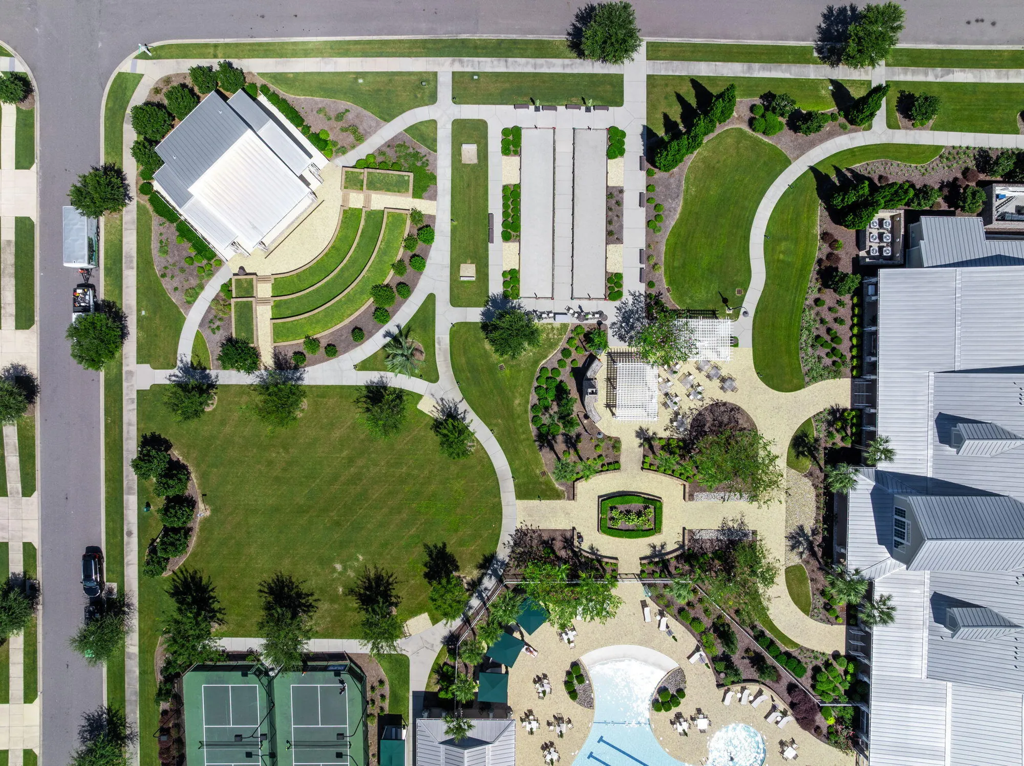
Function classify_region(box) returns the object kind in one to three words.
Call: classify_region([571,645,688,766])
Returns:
swimming pool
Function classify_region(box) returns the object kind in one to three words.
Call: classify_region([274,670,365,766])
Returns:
sports court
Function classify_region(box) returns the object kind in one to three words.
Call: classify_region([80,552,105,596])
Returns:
car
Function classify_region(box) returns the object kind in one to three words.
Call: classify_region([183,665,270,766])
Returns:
sports court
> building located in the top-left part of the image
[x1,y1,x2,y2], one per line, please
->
[150,88,330,264]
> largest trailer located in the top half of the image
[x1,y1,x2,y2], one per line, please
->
[63,205,100,285]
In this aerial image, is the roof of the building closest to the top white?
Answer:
Yes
